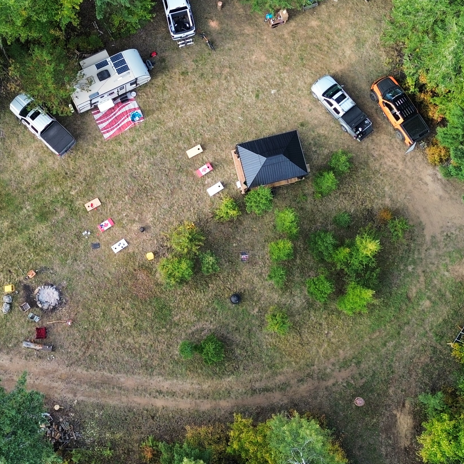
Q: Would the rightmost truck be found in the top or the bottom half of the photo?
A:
top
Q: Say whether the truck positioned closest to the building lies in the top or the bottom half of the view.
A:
top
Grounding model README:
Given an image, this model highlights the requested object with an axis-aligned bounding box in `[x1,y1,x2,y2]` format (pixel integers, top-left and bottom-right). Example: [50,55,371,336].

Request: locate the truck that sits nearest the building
[310,78,373,143]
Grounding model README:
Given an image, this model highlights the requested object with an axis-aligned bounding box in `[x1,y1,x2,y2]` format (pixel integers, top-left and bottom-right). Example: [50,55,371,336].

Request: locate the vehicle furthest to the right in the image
[370,78,431,147]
